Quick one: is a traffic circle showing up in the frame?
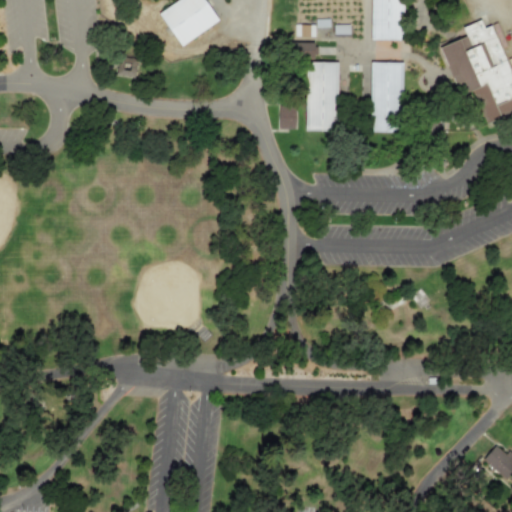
No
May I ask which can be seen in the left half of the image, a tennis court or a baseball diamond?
baseball diamond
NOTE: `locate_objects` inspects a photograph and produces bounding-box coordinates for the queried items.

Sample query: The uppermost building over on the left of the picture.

[160,0,220,46]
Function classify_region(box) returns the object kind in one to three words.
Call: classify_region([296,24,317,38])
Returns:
shed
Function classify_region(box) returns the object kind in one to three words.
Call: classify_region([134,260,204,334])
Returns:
baseball field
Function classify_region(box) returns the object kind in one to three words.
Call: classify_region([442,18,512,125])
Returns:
building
